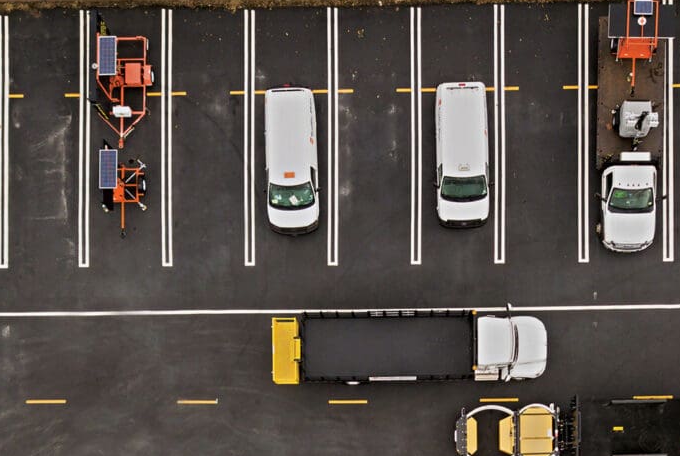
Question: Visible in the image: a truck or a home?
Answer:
truck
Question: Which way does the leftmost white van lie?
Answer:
vertically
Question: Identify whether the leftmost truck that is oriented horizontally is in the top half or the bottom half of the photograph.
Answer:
bottom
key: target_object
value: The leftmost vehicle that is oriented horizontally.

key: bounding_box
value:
[273,303,547,384]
